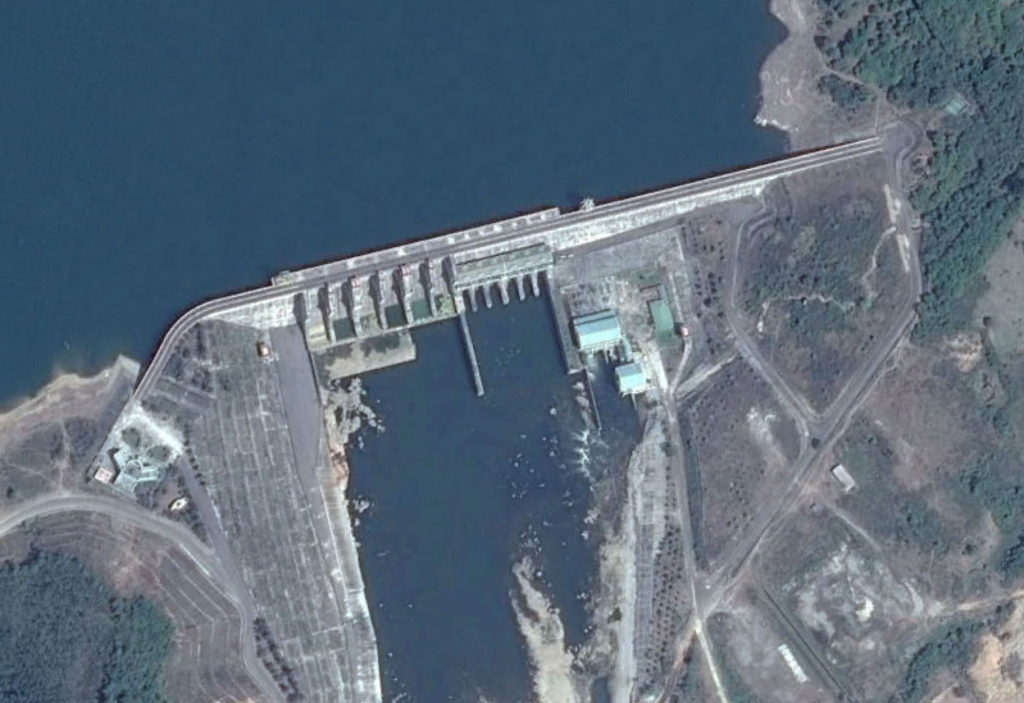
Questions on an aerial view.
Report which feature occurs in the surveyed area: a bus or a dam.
dam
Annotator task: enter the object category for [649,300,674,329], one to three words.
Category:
shed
